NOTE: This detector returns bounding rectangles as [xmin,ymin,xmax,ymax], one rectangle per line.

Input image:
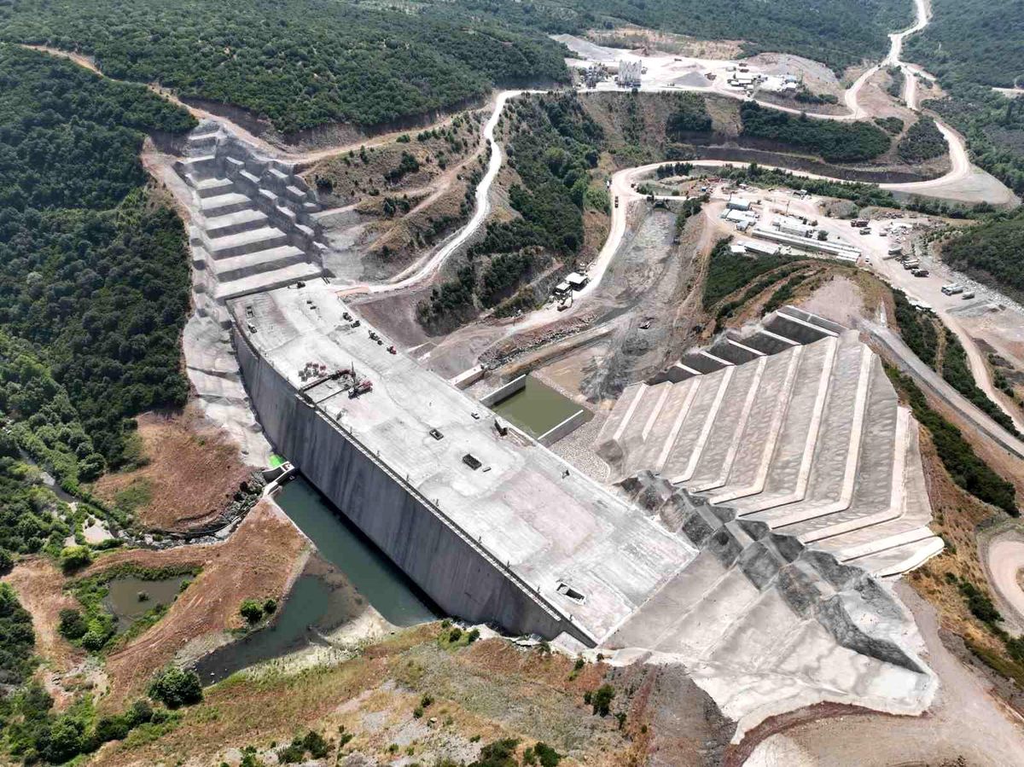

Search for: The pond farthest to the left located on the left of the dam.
[104,574,193,631]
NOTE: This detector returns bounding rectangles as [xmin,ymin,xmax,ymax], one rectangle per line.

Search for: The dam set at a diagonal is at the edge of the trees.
[224,277,697,648]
